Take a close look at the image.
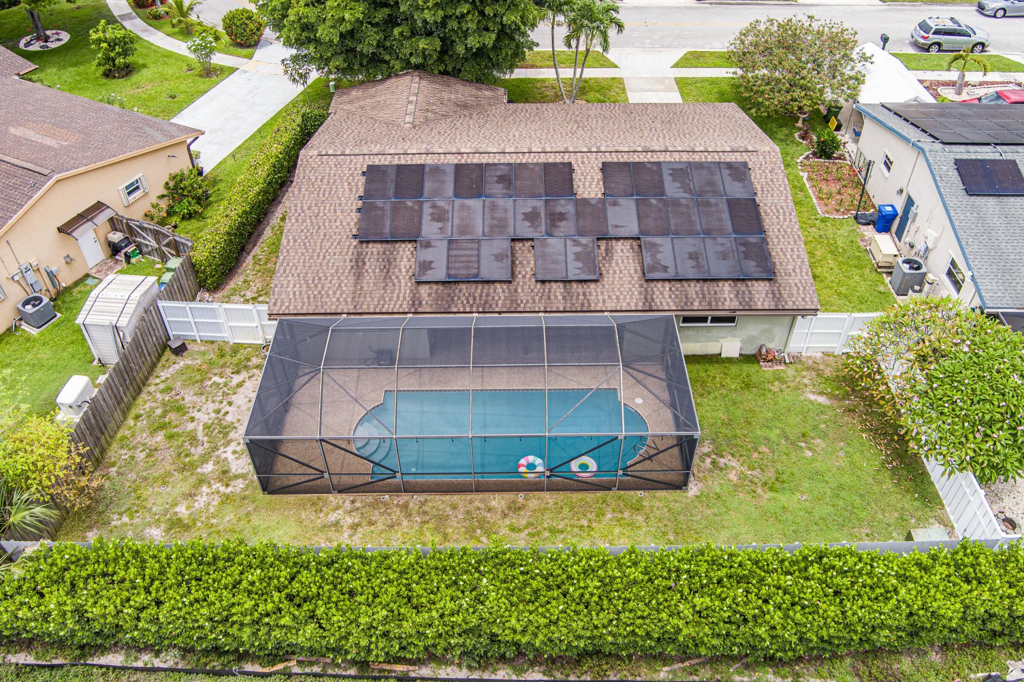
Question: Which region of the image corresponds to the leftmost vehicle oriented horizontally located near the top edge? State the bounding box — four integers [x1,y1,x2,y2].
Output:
[909,10,1000,50]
